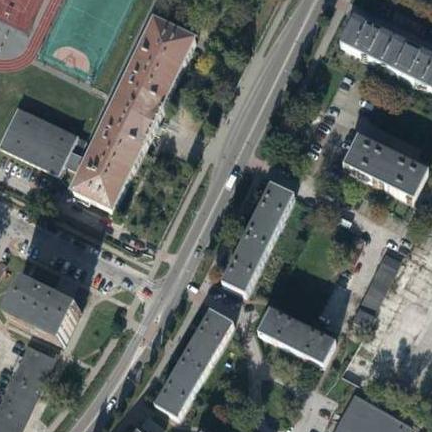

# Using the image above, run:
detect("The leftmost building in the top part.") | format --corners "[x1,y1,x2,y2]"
[0,107,85,178]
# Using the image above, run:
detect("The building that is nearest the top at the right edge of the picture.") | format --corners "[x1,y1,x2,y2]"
[338,13,432,98]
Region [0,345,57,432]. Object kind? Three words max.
building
